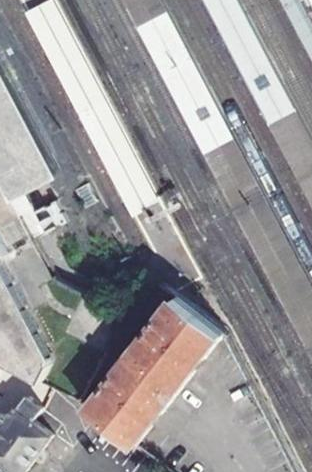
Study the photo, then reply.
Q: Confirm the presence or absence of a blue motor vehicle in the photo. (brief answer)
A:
No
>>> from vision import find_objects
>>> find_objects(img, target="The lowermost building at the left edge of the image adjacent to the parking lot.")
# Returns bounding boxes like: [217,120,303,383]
[0,434,55,472]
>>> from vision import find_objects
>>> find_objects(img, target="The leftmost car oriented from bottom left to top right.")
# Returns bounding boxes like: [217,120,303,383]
[166,444,186,465]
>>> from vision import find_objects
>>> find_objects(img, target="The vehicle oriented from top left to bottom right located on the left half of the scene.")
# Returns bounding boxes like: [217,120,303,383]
[78,432,96,454]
